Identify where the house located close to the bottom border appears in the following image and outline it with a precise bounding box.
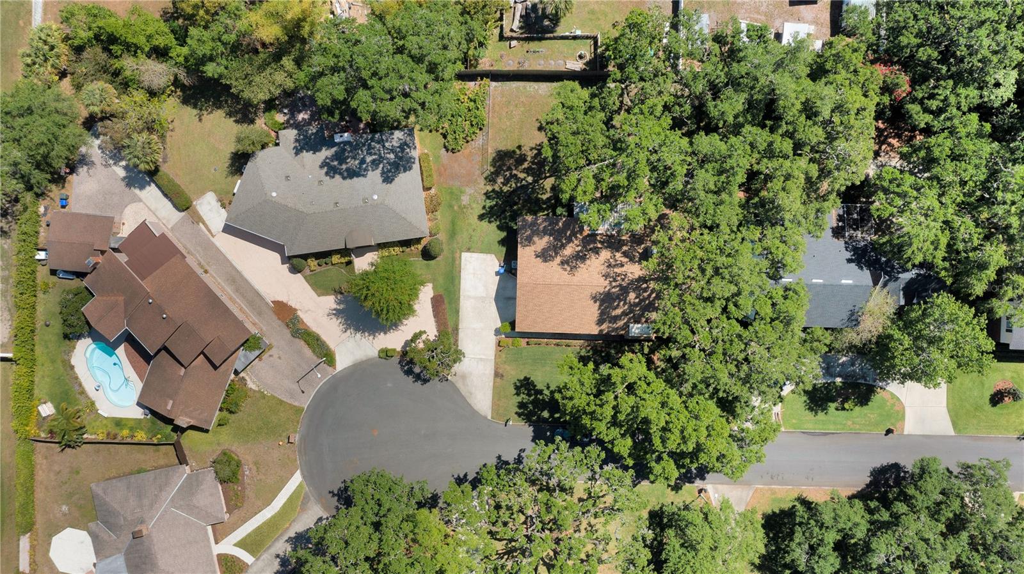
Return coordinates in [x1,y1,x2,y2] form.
[88,465,229,574]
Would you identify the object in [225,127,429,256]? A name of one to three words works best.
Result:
house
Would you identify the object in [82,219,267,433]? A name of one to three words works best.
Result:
house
